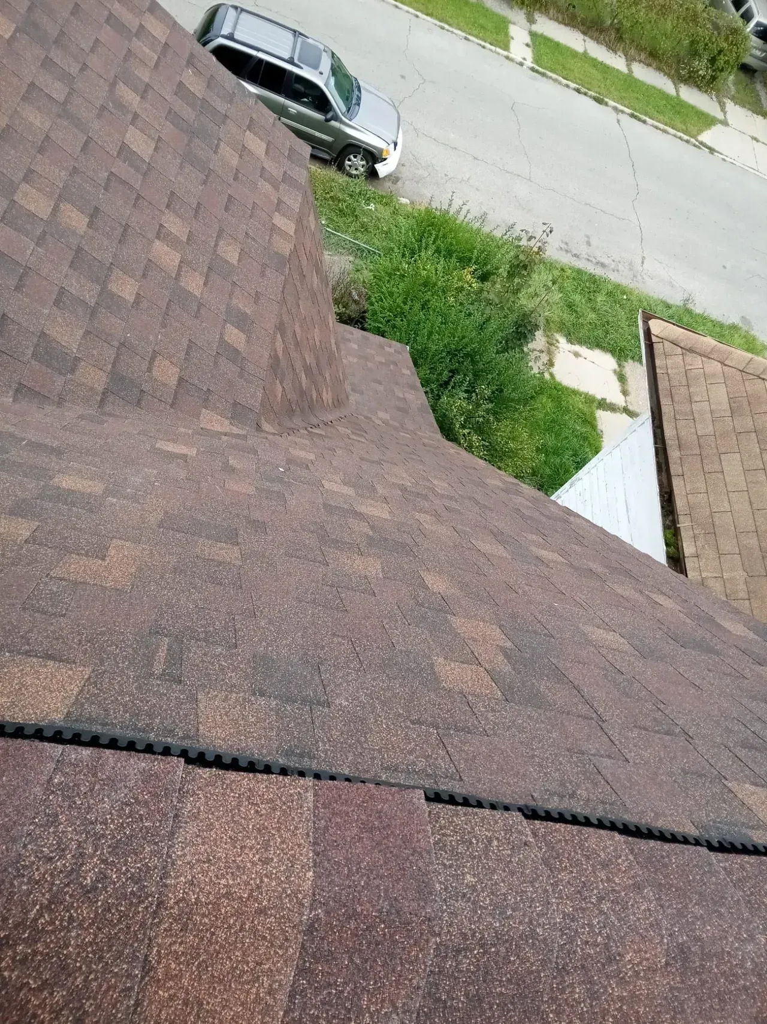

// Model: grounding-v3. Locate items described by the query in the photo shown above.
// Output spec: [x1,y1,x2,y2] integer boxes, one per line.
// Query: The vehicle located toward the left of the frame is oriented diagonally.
[192,0,402,176]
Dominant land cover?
buildings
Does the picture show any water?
No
